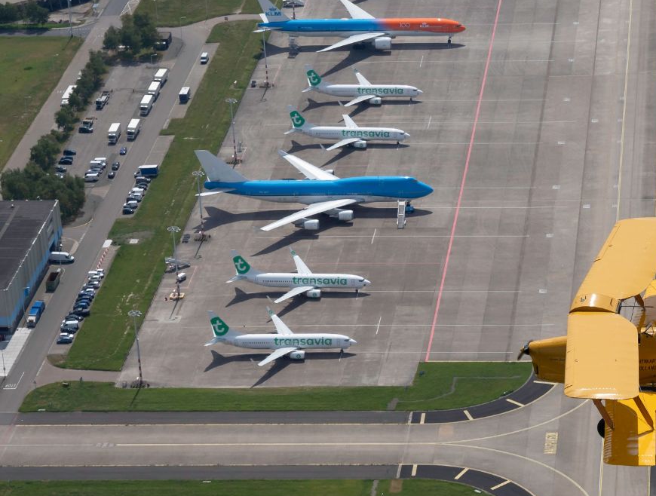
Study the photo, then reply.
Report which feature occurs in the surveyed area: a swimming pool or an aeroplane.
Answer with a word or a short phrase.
aeroplane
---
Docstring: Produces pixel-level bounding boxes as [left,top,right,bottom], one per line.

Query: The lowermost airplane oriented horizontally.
[205,306,357,367]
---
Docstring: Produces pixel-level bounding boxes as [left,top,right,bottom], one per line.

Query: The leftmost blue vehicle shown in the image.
[28,304,43,324]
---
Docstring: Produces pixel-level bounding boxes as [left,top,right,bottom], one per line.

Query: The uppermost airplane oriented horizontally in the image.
[251,0,467,53]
